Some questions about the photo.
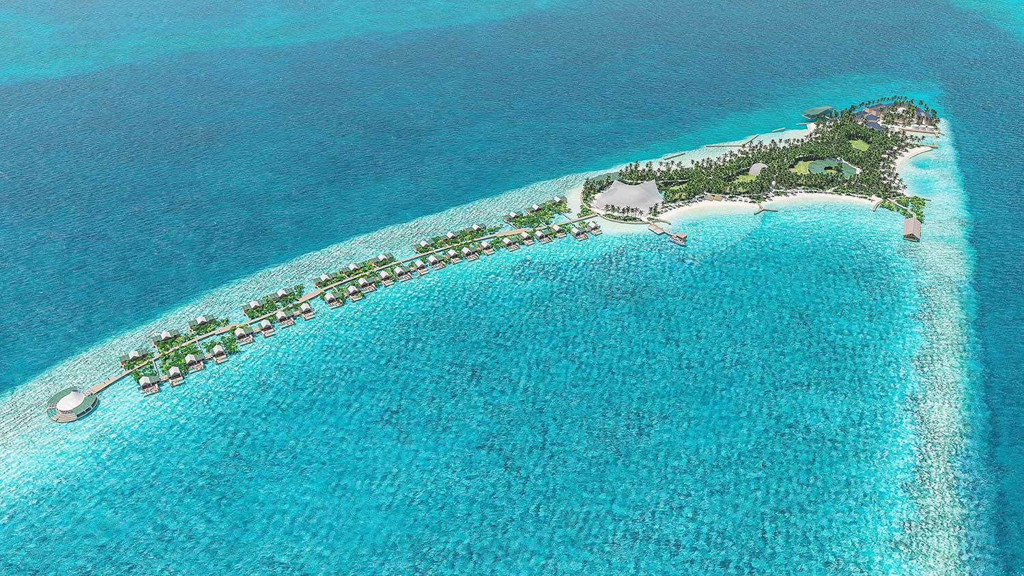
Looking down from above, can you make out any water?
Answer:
Yes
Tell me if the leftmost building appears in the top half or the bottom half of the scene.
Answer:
bottom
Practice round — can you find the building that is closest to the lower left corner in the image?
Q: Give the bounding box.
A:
[45,383,98,424]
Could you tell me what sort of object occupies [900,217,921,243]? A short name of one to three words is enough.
building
